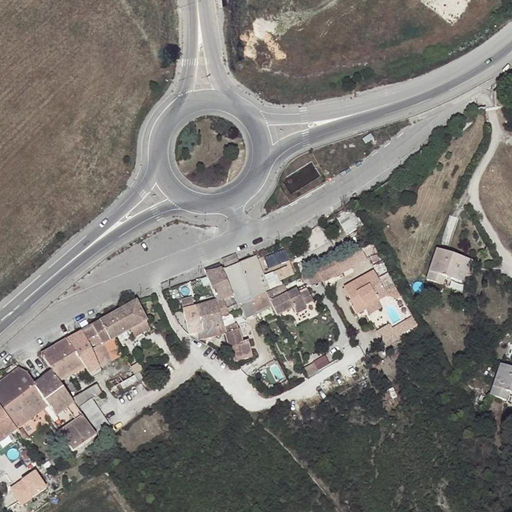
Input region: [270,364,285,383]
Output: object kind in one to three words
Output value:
swimming pool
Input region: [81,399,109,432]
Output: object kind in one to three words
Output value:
shed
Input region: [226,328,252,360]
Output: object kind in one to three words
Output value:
house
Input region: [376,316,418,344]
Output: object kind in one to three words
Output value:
building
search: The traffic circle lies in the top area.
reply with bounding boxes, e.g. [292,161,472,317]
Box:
[149,91,272,214]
